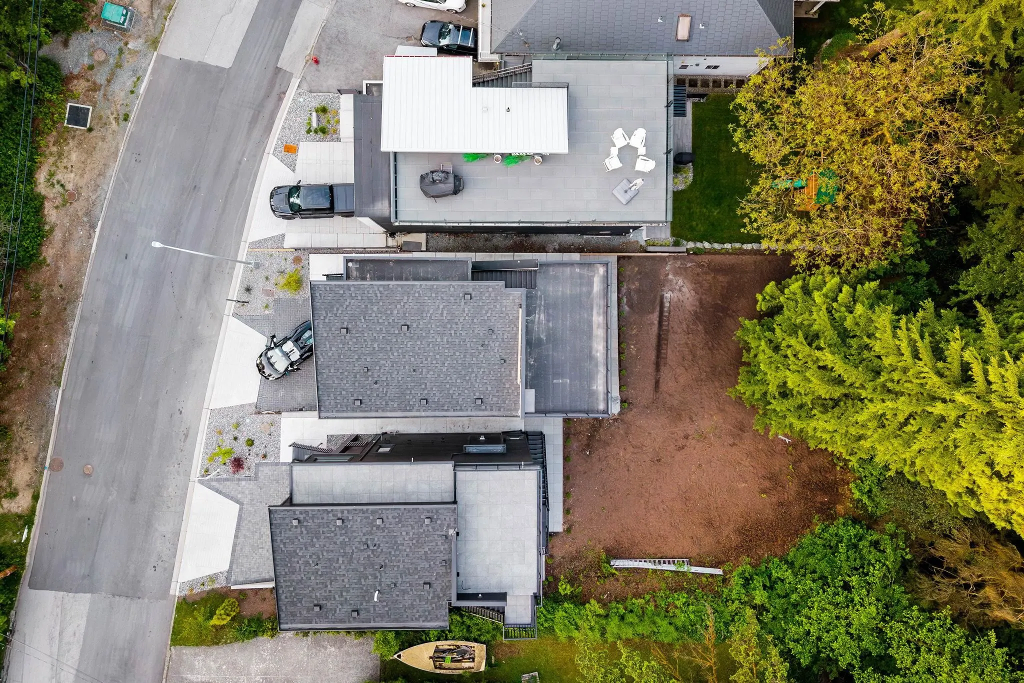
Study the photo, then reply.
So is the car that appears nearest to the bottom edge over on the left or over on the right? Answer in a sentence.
The car that appears nearest to the bottom edge appears in the left half of the scene.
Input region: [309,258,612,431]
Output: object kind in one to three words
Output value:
house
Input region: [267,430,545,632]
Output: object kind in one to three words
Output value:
house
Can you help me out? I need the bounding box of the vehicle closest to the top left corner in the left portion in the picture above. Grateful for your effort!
[269,179,367,223]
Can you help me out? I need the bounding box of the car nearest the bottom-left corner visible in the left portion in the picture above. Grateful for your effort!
[251,311,313,379]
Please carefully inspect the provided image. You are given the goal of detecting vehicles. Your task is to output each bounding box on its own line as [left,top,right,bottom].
[420,17,485,67]
[251,311,313,379]
[393,0,468,17]
[269,179,367,223]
